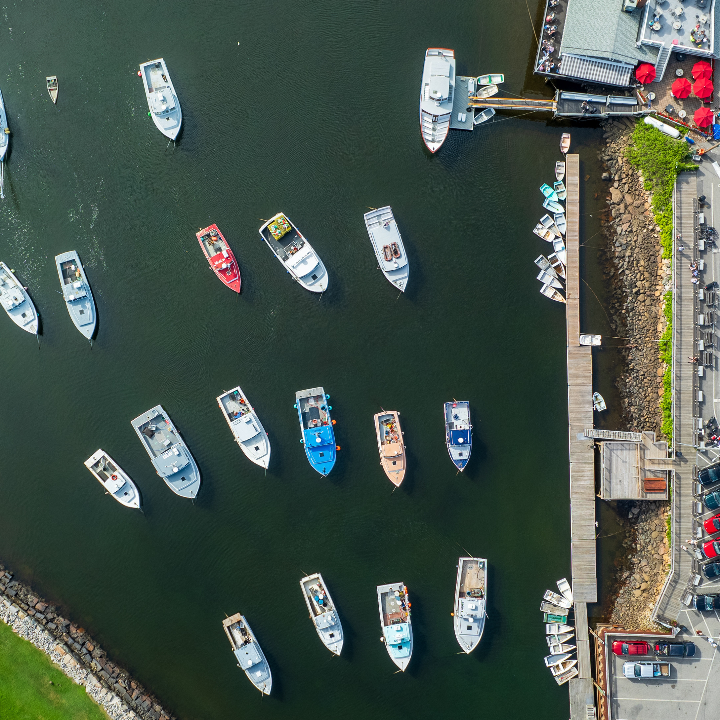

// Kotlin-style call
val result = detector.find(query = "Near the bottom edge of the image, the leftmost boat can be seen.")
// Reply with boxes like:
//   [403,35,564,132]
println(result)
[222,612,271,698]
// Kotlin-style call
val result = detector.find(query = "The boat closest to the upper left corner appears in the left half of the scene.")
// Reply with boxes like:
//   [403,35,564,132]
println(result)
[47,75,59,107]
